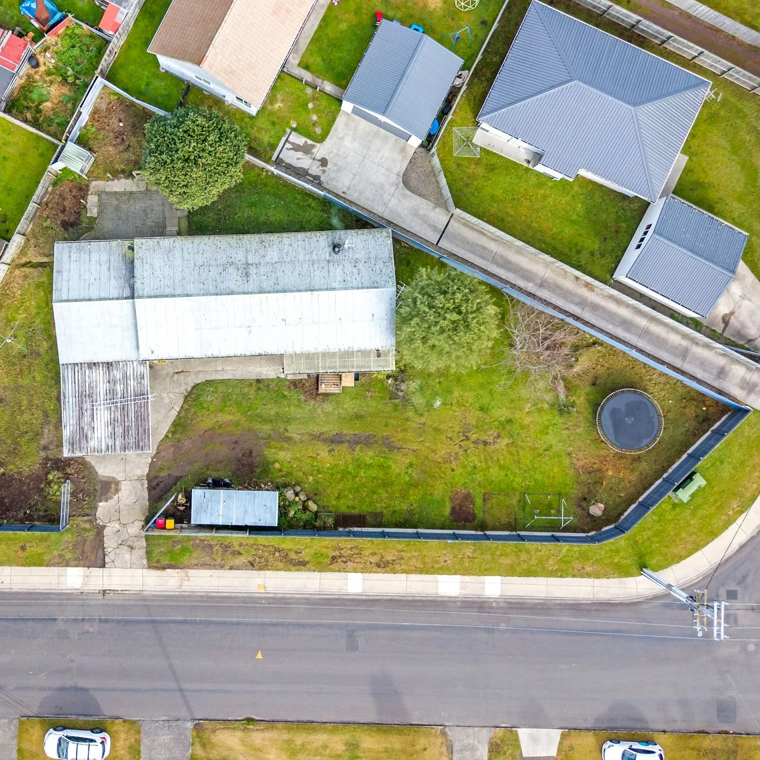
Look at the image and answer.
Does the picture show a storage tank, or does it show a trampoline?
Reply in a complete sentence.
This aerial view contains a trampoline.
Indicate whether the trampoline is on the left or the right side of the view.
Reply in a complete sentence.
You can find the trampoline on the right side of the picture.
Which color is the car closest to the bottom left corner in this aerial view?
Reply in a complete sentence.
In this view, the car closest to the bottom left corner is white.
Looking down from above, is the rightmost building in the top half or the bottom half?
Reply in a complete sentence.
The top half of the photo is where the rightmost building is.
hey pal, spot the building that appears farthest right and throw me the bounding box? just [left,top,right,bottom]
[611,194,750,319]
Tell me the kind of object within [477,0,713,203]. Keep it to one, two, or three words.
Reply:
house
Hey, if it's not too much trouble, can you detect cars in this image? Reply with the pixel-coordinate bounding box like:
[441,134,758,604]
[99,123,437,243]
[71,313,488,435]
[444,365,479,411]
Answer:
[598,737,666,760]
[44,726,112,760]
